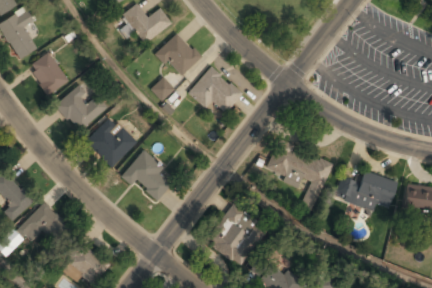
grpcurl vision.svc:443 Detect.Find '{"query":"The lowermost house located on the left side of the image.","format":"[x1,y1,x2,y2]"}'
[64,249,108,283]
